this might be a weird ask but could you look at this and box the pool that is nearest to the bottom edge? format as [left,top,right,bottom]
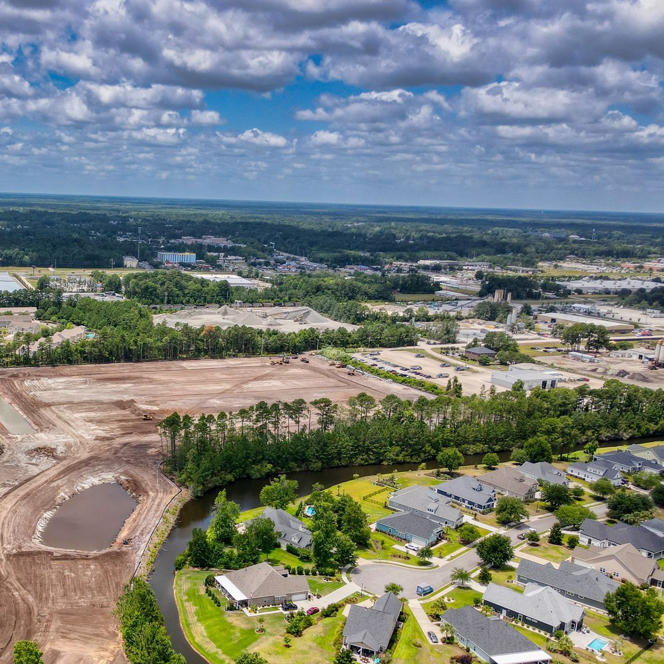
[587,637,608,651]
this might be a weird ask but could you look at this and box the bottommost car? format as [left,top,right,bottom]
[425,630,440,642]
